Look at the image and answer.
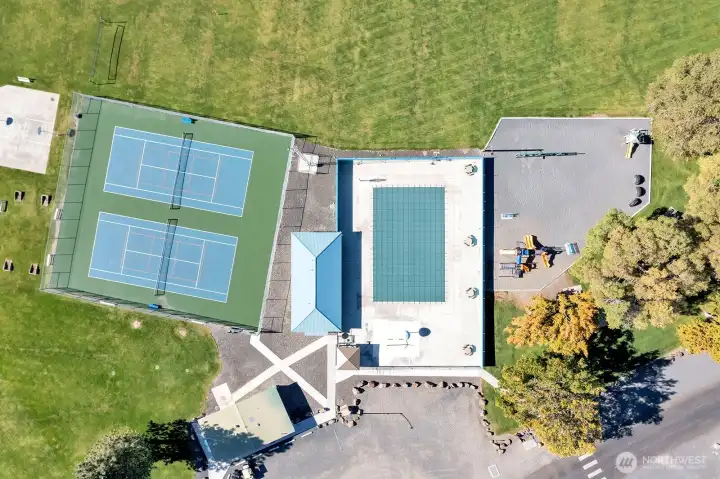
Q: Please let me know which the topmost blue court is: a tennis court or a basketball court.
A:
tennis court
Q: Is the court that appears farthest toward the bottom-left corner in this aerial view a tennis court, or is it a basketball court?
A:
tennis court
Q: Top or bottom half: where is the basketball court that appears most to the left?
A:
top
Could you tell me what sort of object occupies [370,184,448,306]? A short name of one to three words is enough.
swimming pool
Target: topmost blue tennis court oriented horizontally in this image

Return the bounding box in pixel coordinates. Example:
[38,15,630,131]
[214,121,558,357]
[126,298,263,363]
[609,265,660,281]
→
[103,127,254,216]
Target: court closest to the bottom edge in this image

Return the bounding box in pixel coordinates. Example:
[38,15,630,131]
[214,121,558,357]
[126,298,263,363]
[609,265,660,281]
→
[88,212,238,302]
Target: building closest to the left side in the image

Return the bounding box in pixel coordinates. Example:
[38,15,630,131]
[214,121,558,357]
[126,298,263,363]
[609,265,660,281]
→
[198,385,296,465]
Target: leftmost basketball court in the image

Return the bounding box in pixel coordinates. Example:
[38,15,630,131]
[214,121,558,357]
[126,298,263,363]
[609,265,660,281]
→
[0,85,60,174]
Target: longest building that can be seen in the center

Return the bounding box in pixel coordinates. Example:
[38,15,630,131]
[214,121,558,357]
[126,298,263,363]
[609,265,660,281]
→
[290,232,342,335]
